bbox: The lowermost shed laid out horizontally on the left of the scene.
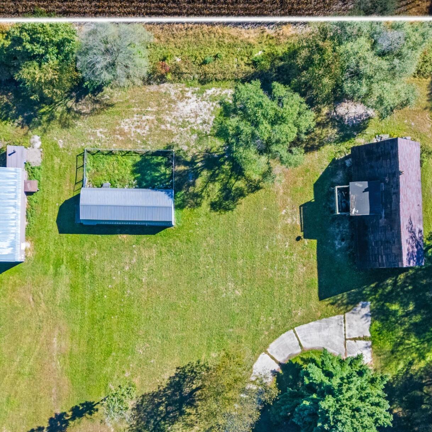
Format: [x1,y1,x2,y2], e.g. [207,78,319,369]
[79,188,175,228]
